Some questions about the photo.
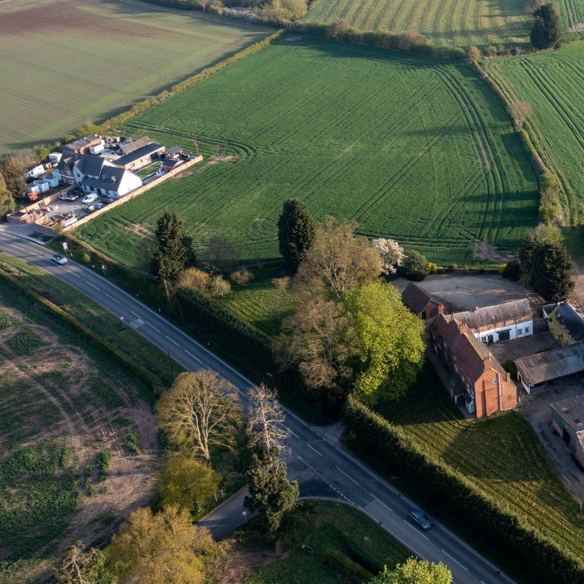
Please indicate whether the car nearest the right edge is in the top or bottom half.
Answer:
bottom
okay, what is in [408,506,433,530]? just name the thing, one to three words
car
